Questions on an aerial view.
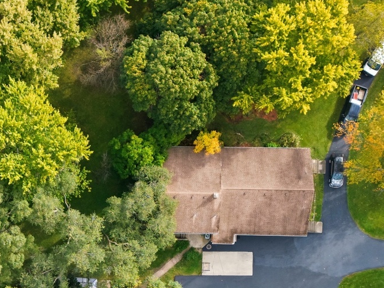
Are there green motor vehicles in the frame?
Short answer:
No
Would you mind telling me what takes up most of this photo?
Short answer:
trees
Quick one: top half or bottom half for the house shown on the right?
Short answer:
bottom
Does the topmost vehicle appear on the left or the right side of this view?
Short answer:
right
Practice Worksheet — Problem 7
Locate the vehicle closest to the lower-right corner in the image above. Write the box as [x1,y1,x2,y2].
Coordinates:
[329,155,346,187]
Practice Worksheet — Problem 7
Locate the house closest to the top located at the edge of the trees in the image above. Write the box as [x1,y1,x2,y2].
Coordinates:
[166,146,316,245]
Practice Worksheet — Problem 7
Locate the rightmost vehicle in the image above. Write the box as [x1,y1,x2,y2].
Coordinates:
[363,42,384,78]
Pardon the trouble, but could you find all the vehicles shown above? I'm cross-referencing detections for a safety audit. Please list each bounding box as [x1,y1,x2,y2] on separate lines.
[363,42,384,78]
[329,155,346,187]
[340,87,366,127]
